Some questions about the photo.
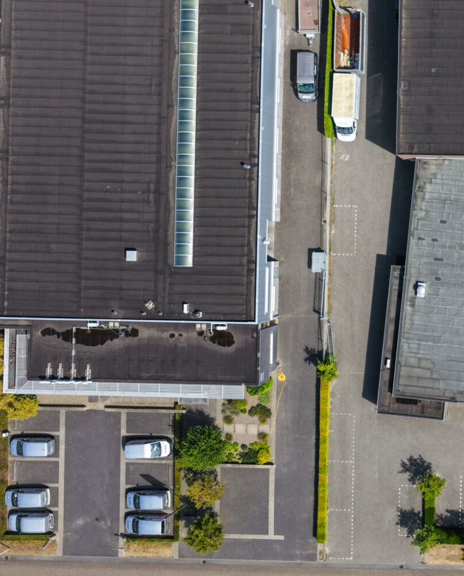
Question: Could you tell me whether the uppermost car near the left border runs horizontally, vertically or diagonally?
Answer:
horizontally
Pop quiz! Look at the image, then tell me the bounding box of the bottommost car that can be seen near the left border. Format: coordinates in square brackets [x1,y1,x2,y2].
[9,509,56,534]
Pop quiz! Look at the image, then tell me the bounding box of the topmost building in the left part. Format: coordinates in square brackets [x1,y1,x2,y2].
[0,0,290,338]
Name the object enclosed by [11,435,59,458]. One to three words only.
car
